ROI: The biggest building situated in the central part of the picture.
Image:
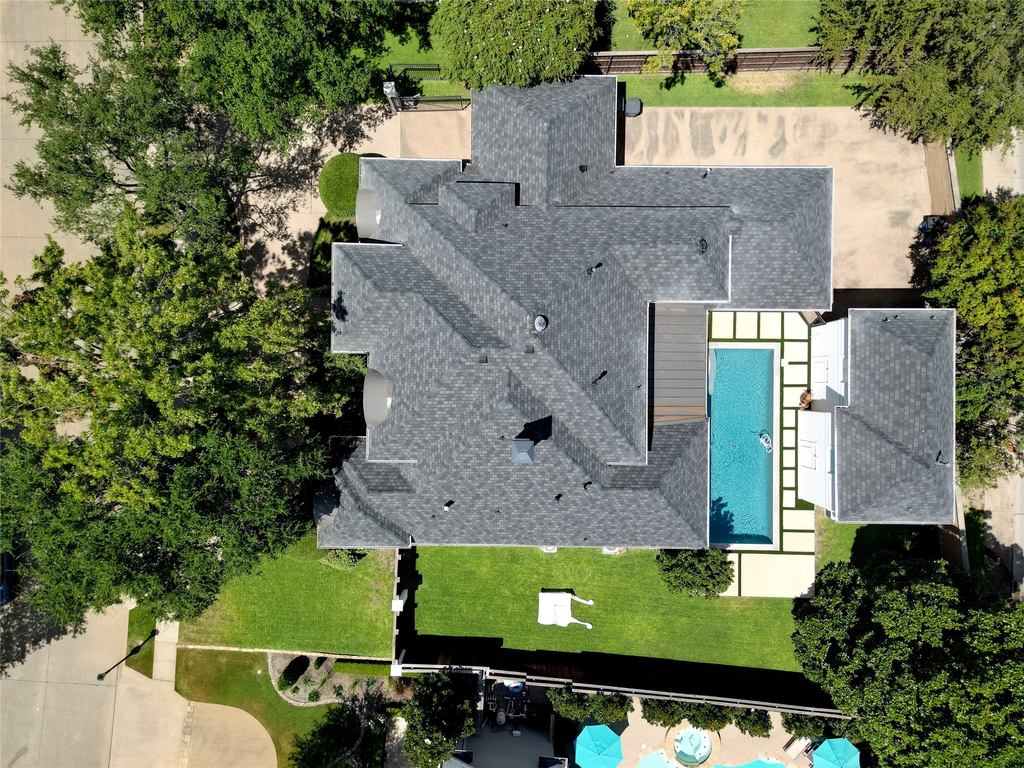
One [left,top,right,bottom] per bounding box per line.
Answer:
[310,75,835,549]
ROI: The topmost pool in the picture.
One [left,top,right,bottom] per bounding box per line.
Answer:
[690,342,787,552]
